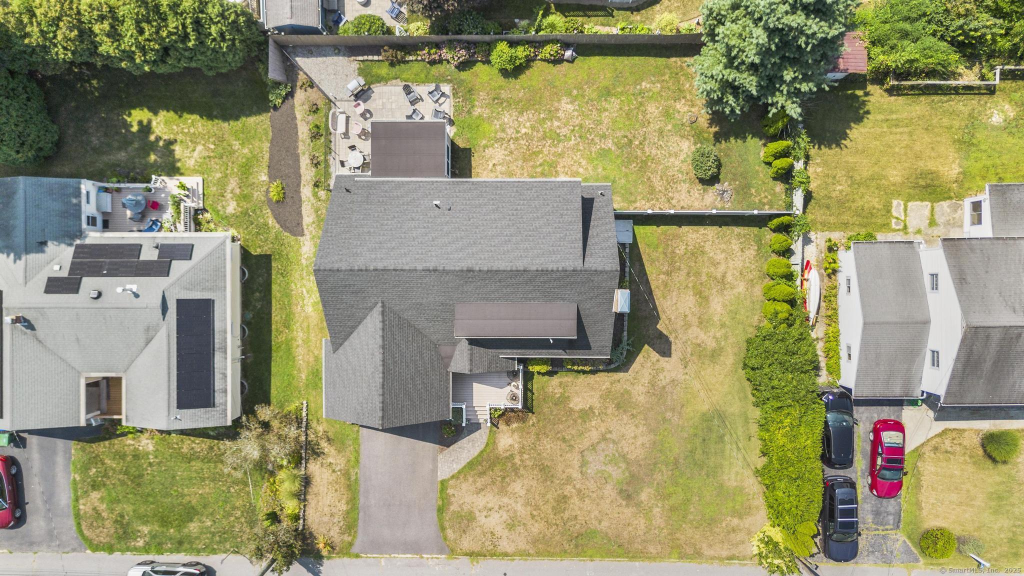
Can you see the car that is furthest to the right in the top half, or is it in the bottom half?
bottom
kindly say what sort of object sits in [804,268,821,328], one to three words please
boat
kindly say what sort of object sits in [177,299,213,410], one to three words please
solar panel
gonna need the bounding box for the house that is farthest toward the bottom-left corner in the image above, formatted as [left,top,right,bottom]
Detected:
[0,175,242,430]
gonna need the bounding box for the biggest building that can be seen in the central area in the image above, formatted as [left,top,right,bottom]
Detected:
[314,120,630,429]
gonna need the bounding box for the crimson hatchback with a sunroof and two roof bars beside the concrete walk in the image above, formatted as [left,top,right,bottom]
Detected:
[863,417,906,497]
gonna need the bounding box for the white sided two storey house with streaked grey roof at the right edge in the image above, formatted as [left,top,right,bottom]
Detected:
[837,182,1024,407]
